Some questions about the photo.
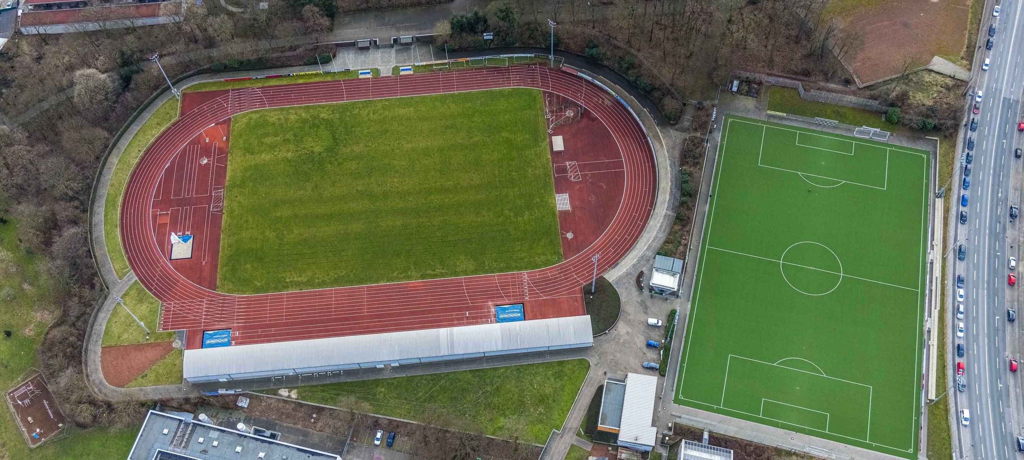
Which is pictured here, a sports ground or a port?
sports ground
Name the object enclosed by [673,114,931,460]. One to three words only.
sports field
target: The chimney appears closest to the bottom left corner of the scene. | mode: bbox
[198,412,214,425]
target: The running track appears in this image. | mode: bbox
[119,65,655,351]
